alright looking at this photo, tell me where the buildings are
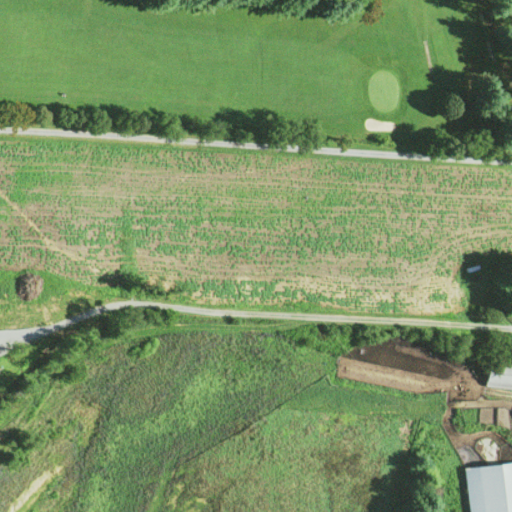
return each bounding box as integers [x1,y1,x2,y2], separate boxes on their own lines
[498,408,510,428]
[466,465,512,512]
[480,408,494,424]
[486,370,512,392]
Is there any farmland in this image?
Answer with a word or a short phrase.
Yes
